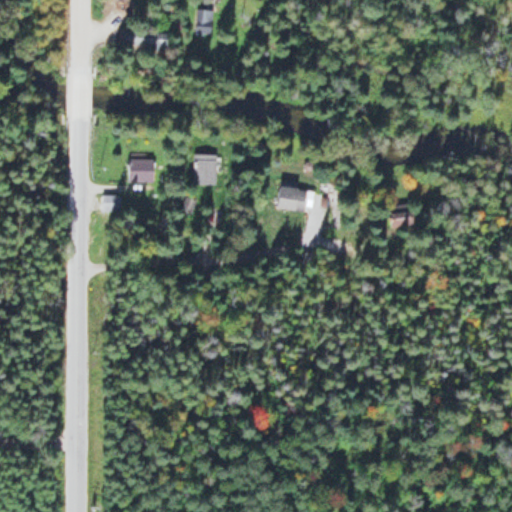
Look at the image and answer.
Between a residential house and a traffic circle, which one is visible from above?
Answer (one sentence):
It is a residential house that can be seen here.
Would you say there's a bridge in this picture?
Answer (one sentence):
Yes, you can see a bridge in this photo.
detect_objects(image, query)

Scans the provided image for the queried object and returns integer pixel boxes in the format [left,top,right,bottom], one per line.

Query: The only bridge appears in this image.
[62,66,96,124]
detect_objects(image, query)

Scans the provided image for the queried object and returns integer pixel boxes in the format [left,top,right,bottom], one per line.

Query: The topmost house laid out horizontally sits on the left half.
[133,35,166,52]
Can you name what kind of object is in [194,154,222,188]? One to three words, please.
house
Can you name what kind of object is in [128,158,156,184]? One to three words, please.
house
